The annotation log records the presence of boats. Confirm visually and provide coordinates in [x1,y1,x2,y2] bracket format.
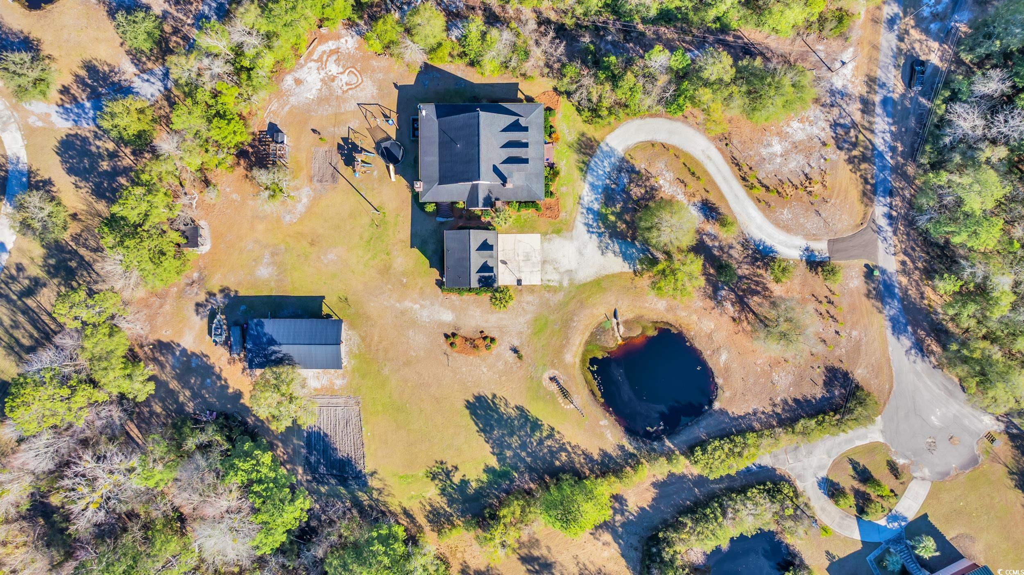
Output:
[206,315,222,348]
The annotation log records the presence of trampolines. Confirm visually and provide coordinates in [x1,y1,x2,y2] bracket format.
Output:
[374,134,402,164]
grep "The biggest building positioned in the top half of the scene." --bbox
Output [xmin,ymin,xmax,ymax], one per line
[409,102,545,210]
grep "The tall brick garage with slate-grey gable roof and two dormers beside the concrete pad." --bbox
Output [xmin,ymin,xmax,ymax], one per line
[444,228,498,288]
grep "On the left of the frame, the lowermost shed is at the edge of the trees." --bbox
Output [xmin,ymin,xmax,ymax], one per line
[242,319,346,369]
